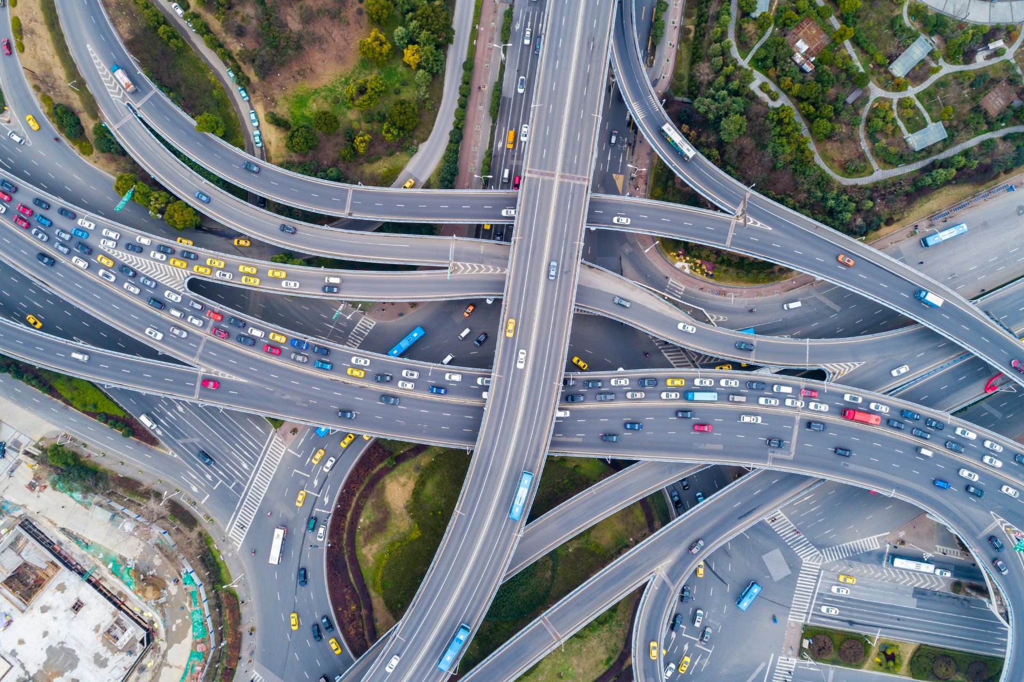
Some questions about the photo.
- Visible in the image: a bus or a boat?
bus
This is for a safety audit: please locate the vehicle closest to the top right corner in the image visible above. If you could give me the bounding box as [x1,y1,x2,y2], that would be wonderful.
[922,222,974,246]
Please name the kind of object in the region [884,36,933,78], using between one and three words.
building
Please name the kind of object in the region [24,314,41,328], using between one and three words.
car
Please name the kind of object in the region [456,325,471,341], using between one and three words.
vehicle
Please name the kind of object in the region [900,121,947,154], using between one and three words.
building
